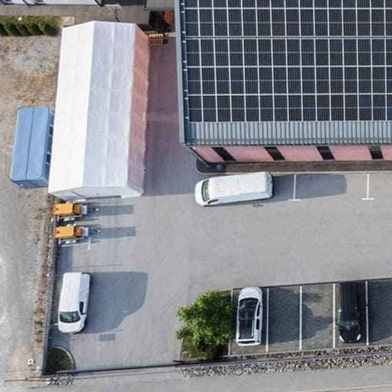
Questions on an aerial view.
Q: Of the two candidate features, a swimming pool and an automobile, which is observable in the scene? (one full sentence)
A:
Looking from above, you can make out an automobile.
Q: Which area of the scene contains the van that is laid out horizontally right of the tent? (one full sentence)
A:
The van that is laid out horizontally right of the tent sits in the center section of the image.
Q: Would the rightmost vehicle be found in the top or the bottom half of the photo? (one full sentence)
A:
The rightmost vehicle is in the bottom half of the image.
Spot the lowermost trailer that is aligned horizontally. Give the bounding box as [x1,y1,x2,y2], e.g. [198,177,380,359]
[49,226,97,248]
